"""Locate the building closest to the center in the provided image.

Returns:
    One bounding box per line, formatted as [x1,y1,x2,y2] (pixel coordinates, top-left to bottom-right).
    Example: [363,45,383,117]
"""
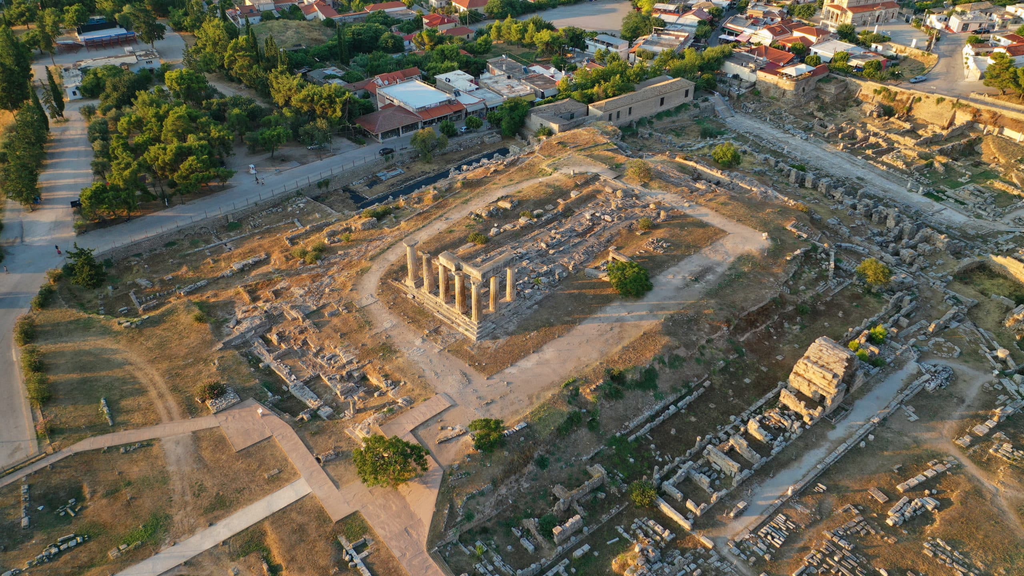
[391,241,592,344]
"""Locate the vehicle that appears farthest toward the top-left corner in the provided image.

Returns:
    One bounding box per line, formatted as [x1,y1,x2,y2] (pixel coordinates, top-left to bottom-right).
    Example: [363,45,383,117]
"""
[63,194,84,207]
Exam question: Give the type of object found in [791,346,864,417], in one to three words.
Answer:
building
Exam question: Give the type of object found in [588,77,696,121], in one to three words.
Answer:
building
